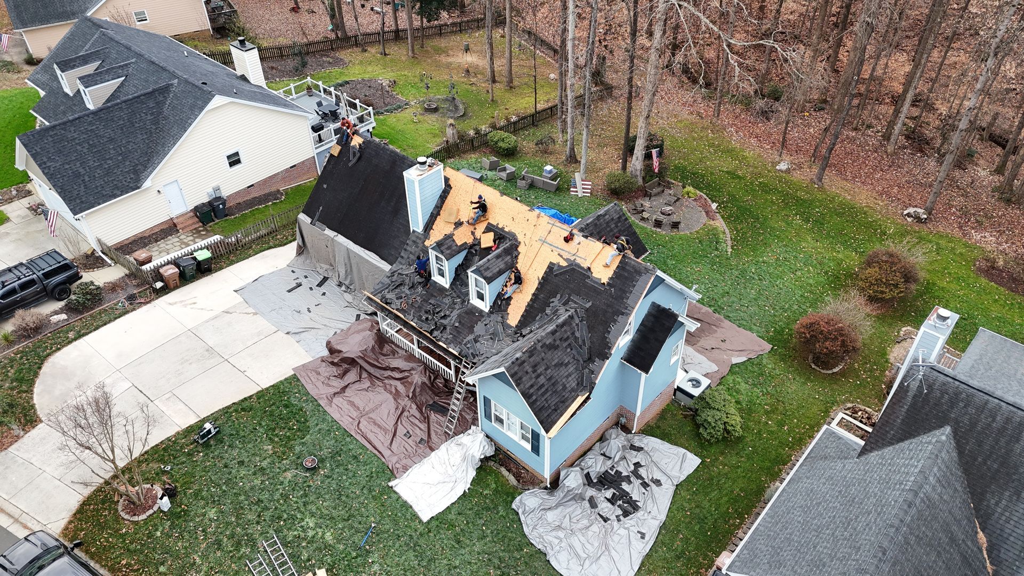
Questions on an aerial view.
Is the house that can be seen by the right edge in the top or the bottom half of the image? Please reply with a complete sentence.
The house that can be seen by the right edge sits in the bottom half of the picture.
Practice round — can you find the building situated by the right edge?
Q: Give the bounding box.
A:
[710,300,1024,576]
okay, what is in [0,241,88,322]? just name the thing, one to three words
truck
